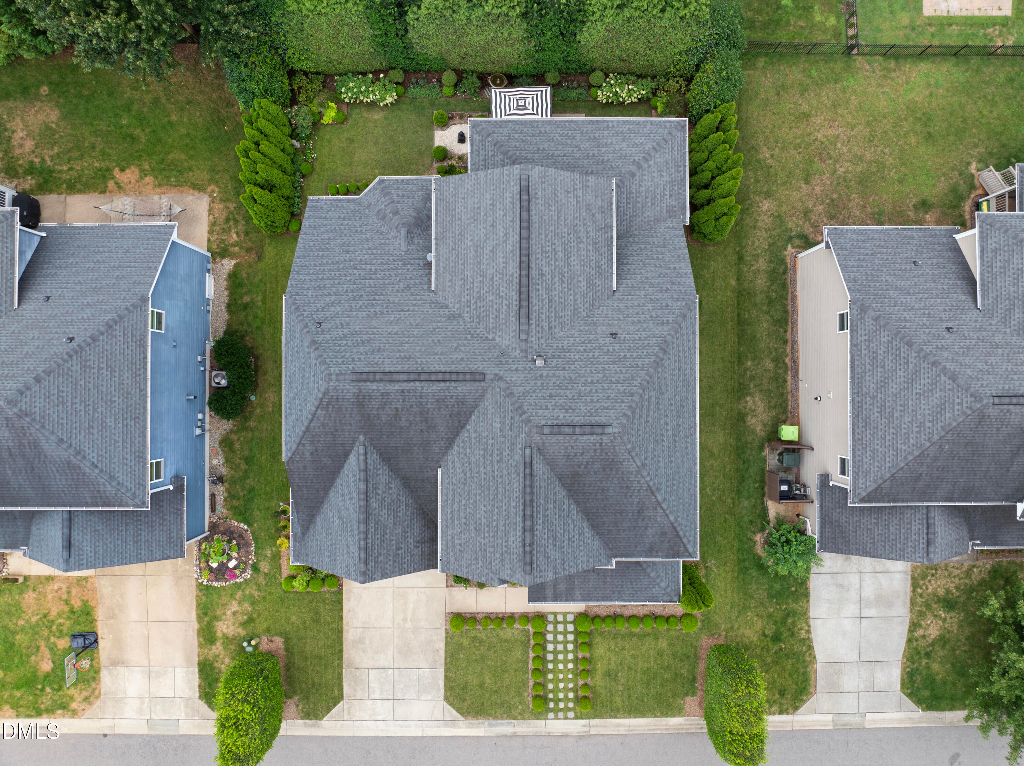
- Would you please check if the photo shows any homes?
Yes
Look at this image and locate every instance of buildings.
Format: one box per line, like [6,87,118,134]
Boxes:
[0,206,211,573]
[790,162,1024,564]
[282,116,700,606]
